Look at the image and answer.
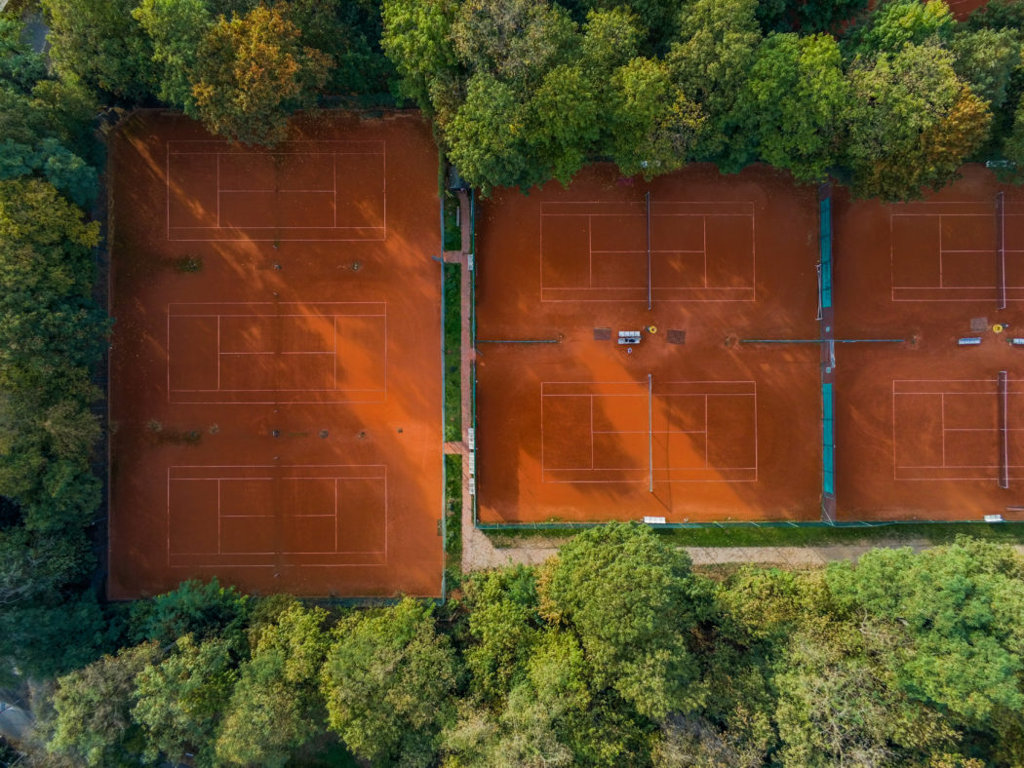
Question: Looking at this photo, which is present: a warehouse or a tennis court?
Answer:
tennis court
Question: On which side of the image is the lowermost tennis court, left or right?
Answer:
left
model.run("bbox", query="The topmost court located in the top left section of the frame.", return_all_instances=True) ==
[108,109,445,272]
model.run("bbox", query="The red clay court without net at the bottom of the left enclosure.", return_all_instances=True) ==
[108,434,446,599]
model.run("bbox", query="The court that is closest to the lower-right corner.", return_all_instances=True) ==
[836,341,1024,521]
